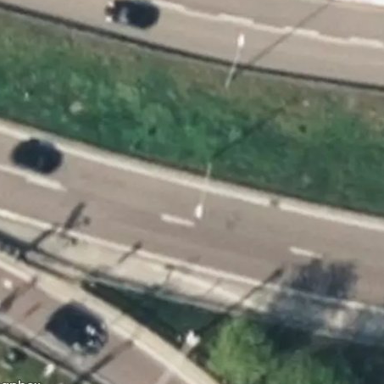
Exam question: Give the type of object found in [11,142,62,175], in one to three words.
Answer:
car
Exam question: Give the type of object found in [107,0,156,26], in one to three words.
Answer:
car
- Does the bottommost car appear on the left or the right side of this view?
left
